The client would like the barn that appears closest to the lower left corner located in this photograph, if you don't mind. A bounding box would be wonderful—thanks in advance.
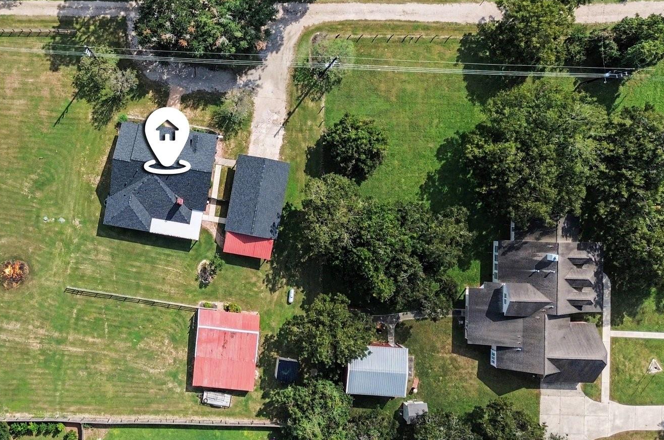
[193,308,260,391]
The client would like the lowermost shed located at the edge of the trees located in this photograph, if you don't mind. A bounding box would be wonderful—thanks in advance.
[400,399,428,424]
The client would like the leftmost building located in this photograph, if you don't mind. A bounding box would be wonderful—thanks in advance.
[102,122,223,240]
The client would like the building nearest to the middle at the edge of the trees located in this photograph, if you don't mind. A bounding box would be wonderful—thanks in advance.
[223,155,289,260]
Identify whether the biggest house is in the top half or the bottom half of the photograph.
bottom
